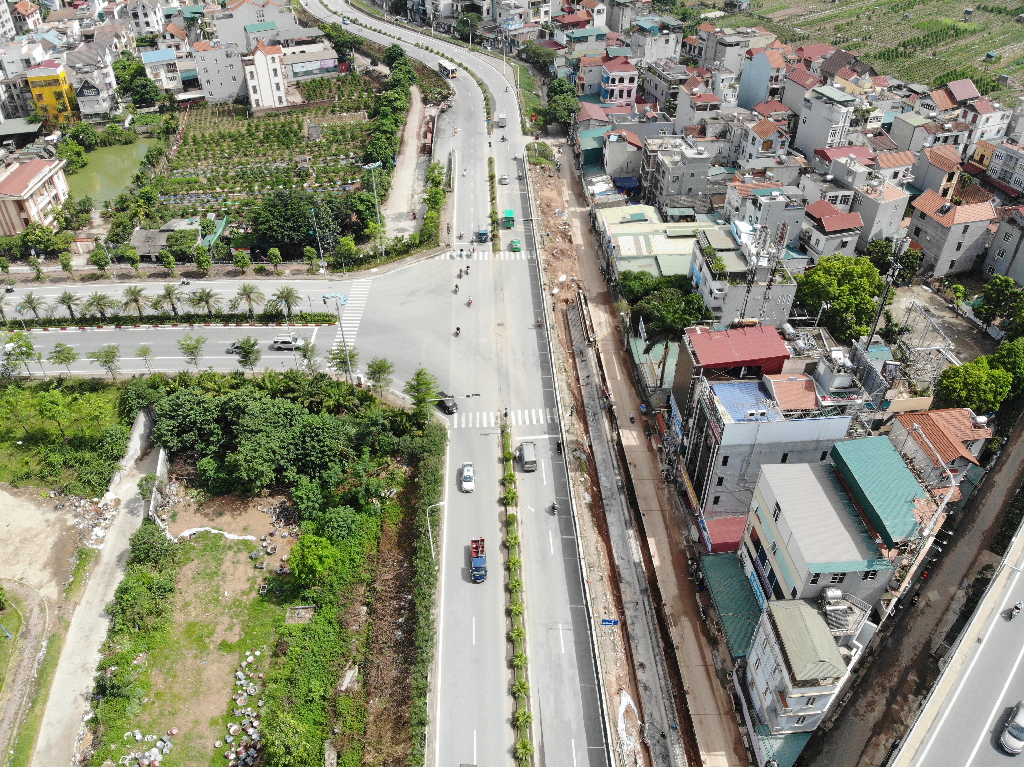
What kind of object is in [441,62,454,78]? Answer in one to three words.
vehicle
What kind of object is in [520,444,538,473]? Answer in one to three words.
car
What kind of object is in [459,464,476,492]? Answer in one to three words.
car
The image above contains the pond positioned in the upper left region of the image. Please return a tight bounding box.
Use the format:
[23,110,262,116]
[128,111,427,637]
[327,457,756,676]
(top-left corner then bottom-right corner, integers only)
[71,135,162,216]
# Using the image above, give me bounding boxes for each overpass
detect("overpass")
[890,523,1024,767]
